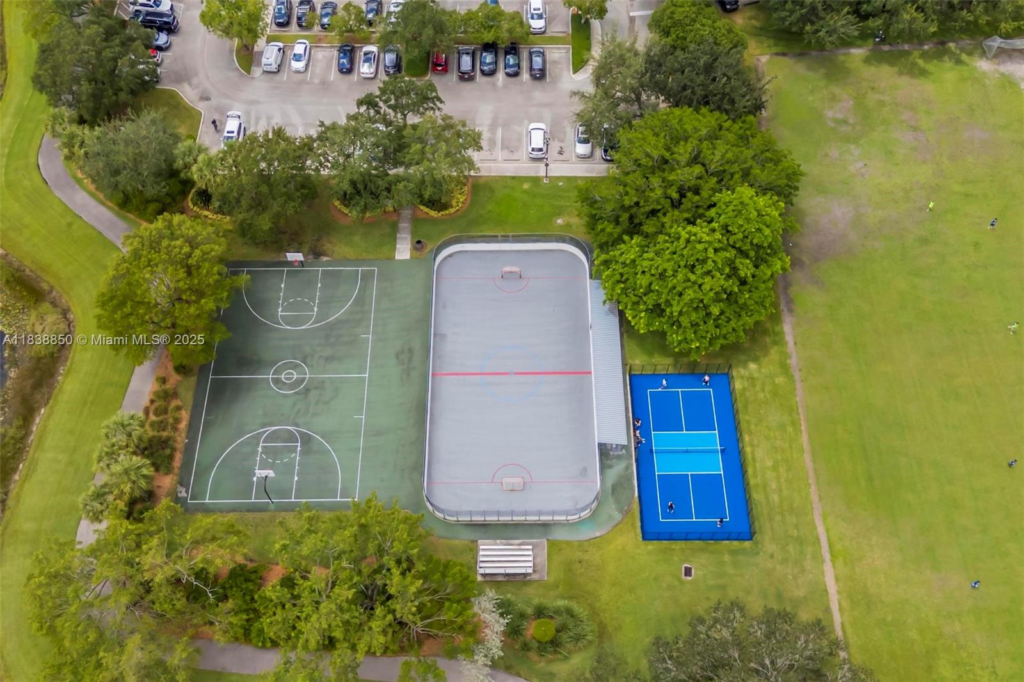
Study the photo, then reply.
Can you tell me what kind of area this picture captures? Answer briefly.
sports ground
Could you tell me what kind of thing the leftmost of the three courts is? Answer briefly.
basketball court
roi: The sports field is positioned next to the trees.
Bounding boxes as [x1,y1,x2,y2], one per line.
[763,42,1024,682]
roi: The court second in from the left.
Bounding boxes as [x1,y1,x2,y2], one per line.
[421,232,603,523]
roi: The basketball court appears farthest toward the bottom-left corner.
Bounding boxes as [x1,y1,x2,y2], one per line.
[176,260,395,514]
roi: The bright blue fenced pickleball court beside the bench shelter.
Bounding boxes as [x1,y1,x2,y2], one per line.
[629,373,752,540]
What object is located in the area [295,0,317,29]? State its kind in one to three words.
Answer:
car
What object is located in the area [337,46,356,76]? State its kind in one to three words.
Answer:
car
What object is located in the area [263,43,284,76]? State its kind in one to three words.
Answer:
vehicle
